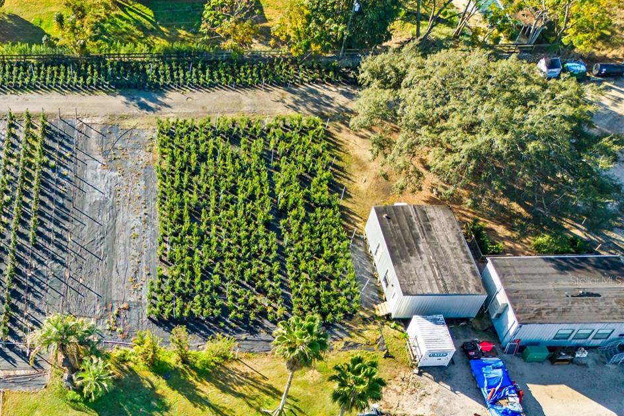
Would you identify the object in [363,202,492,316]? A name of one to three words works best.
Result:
building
